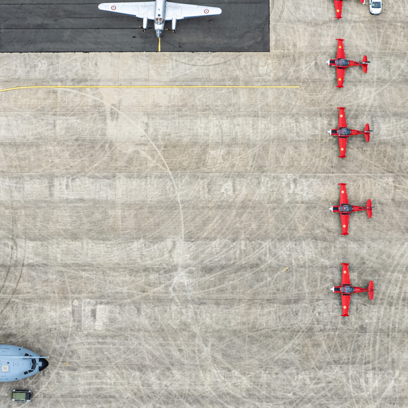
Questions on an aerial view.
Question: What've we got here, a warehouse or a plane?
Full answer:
Looking from above, you can make out a plane.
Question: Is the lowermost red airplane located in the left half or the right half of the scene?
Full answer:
You can find the lowermost red airplane on the right side of the picture.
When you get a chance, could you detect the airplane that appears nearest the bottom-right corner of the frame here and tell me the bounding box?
[330,263,375,317]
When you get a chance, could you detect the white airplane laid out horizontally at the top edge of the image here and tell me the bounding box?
[99,0,221,38]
